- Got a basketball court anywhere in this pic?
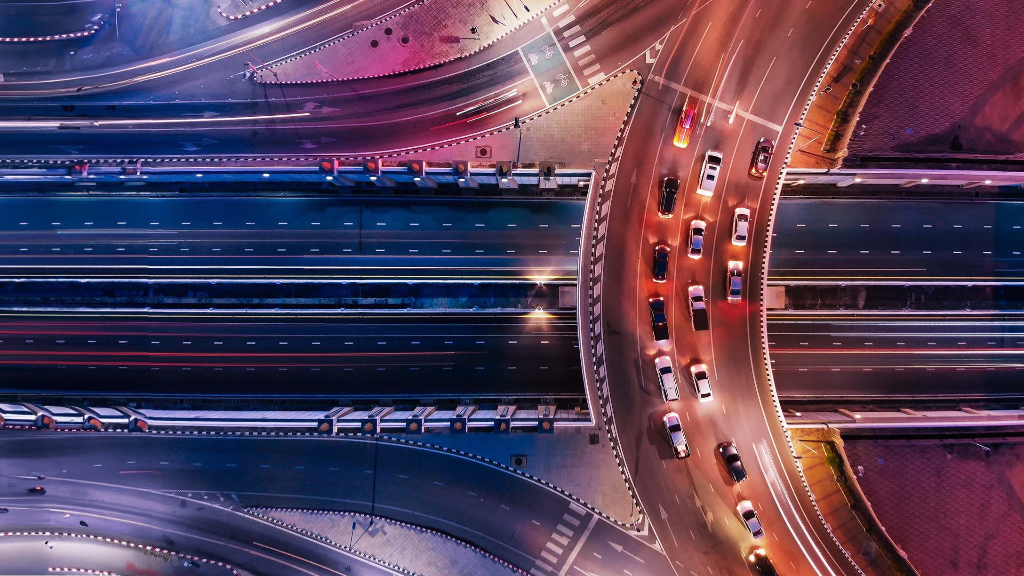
No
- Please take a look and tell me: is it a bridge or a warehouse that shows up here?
bridge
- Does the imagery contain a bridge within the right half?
Yes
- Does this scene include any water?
No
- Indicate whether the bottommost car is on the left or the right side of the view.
right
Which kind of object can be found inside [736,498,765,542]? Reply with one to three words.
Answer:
car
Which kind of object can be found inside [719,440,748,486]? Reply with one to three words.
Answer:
car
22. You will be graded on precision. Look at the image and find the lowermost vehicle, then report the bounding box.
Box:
[747,545,774,576]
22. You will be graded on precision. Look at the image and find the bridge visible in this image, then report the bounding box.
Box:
[576,169,791,426]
